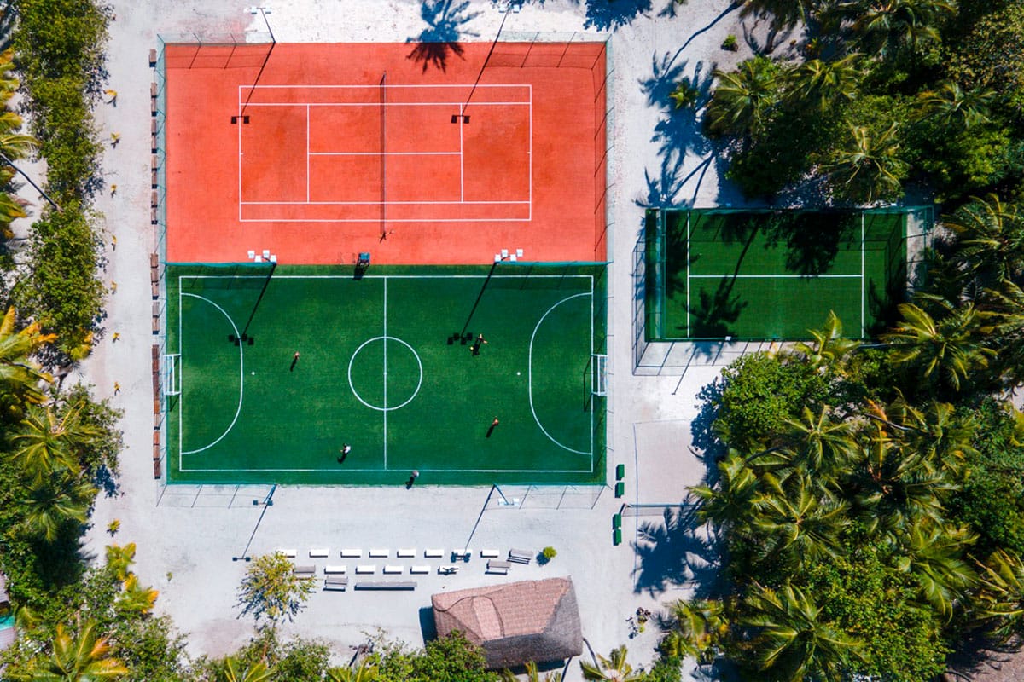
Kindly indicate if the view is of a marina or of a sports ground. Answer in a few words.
sports ground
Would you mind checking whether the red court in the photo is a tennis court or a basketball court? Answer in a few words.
tennis court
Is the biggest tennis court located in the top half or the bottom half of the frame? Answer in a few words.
top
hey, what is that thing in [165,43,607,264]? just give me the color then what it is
red tennis court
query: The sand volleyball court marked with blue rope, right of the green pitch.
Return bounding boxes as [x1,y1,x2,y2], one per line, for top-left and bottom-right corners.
[634,418,732,591]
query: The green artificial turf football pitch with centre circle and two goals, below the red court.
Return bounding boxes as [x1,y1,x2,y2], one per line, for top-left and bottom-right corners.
[166,264,607,485]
